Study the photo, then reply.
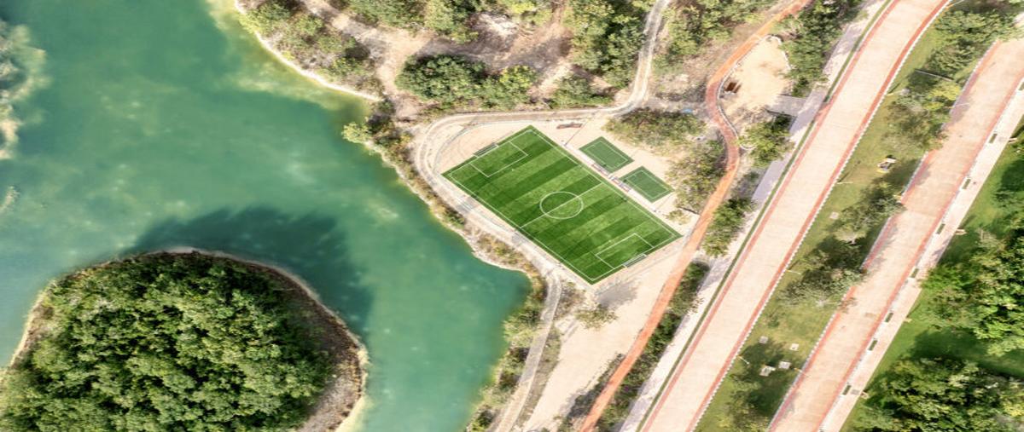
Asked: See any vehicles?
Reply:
No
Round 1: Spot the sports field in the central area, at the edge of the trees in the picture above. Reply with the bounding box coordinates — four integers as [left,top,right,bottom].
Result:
[443,126,681,283]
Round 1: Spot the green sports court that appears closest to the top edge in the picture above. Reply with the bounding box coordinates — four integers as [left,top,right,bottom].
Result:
[579,136,633,172]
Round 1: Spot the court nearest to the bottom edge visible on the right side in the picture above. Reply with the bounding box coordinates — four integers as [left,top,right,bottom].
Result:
[619,166,673,201]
